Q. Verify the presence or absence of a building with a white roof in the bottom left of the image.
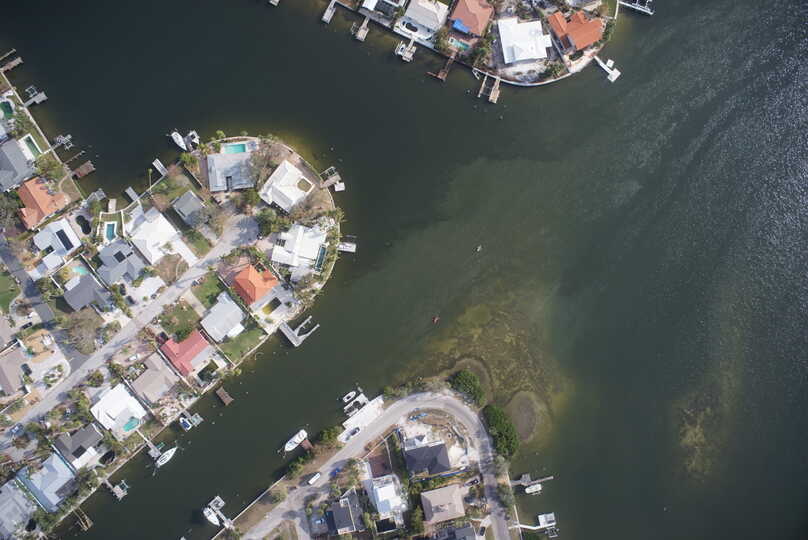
Yes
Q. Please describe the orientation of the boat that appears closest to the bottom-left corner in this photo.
diagonally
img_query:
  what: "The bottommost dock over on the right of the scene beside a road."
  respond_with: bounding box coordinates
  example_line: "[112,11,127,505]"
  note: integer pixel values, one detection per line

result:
[507,511,559,540]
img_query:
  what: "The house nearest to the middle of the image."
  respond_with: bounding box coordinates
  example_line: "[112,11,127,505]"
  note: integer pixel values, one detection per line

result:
[270,225,328,266]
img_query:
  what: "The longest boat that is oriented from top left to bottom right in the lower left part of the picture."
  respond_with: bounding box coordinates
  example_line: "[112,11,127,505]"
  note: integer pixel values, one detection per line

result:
[202,506,220,525]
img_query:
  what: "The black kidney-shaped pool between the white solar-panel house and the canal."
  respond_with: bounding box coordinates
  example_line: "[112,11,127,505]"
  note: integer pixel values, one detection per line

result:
[75,215,92,238]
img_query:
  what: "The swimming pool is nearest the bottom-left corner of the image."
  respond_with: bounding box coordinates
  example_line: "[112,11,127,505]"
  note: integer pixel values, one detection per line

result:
[97,448,117,467]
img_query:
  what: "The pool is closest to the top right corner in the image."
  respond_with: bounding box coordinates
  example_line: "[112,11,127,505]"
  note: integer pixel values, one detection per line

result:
[447,36,471,51]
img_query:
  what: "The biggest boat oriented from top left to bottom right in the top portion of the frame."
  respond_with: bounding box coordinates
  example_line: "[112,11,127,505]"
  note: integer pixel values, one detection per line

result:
[172,129,189,149]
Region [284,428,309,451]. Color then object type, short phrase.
white boat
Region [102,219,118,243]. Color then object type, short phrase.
white swimming pool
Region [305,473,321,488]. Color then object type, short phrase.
white vehicle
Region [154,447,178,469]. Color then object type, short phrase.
white boat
